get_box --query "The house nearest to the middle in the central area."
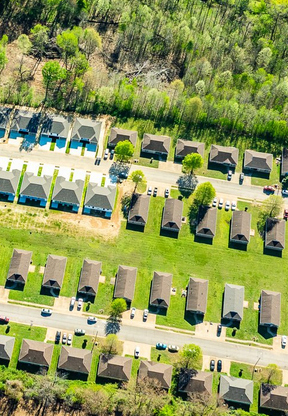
[123,196,149,229]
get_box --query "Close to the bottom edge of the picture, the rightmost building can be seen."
[256,384,288,414]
